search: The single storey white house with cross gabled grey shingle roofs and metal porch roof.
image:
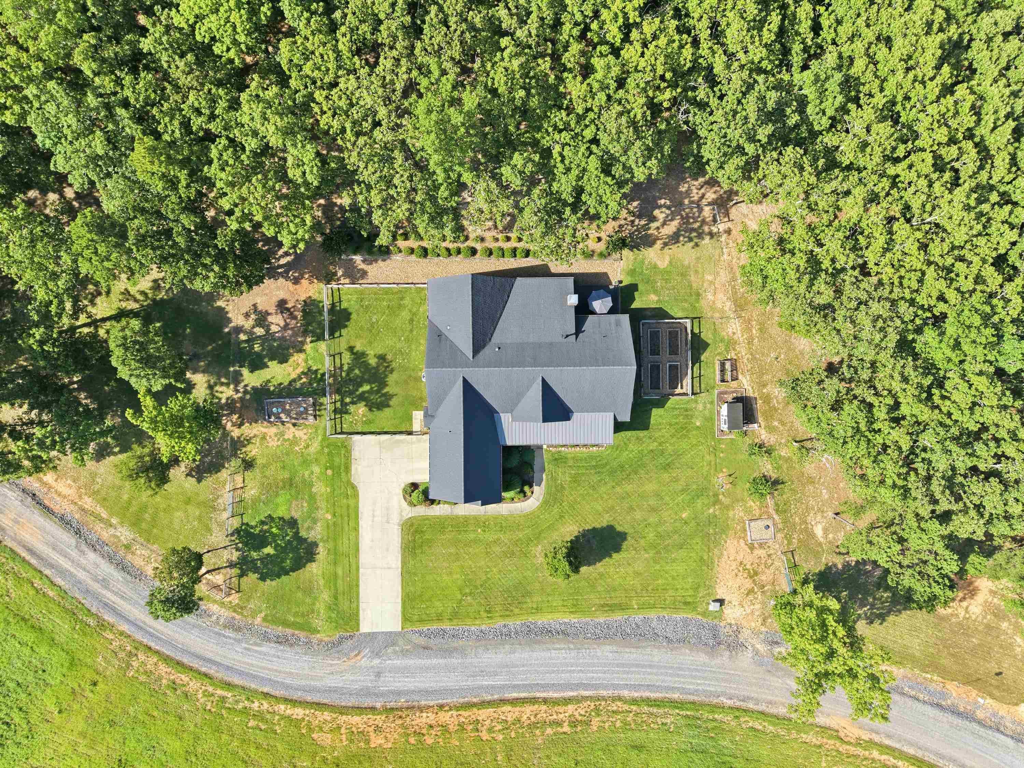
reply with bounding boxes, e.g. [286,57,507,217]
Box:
[422,273,636,507]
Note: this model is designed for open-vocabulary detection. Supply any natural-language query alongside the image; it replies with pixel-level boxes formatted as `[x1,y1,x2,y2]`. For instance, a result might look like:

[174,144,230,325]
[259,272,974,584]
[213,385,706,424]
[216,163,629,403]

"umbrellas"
[589,290,613,313]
